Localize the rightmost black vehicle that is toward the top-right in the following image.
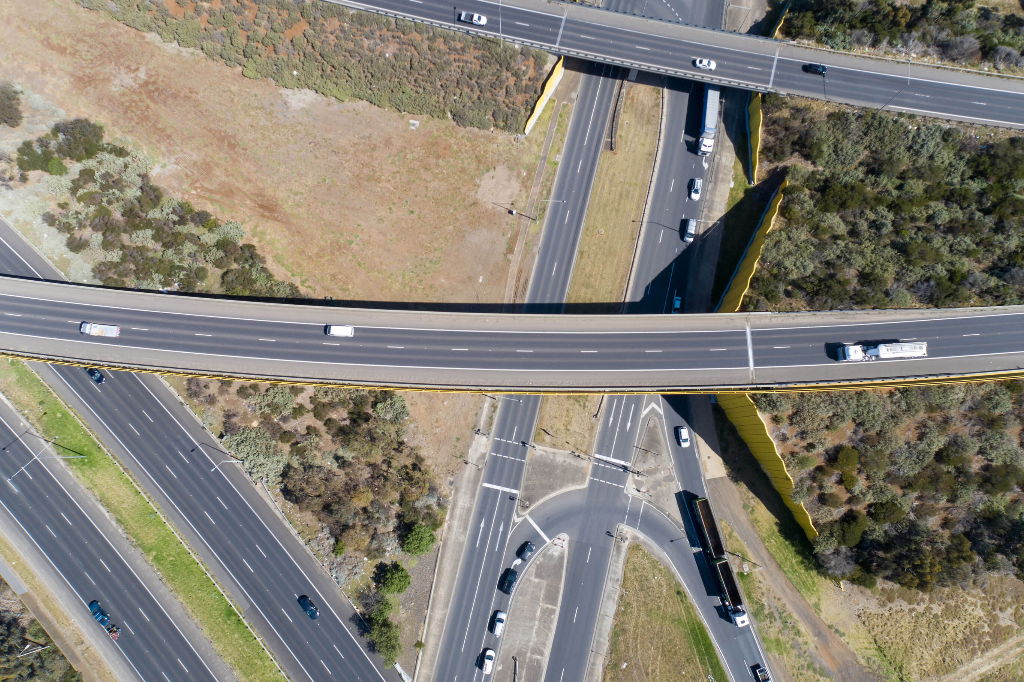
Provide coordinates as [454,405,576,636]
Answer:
[806,63,828,75]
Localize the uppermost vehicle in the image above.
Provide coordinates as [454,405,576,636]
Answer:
[461,12,487,27]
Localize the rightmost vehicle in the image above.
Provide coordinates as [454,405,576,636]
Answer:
[835,343,929,362]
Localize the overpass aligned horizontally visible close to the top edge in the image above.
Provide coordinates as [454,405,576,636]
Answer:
[556,0,781,96]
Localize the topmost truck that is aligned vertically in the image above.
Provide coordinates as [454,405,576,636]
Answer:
[697,86,719,157]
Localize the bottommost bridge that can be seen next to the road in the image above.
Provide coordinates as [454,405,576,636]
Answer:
[0,277,759,396]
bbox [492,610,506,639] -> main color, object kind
white car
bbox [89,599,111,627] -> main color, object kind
blue truck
